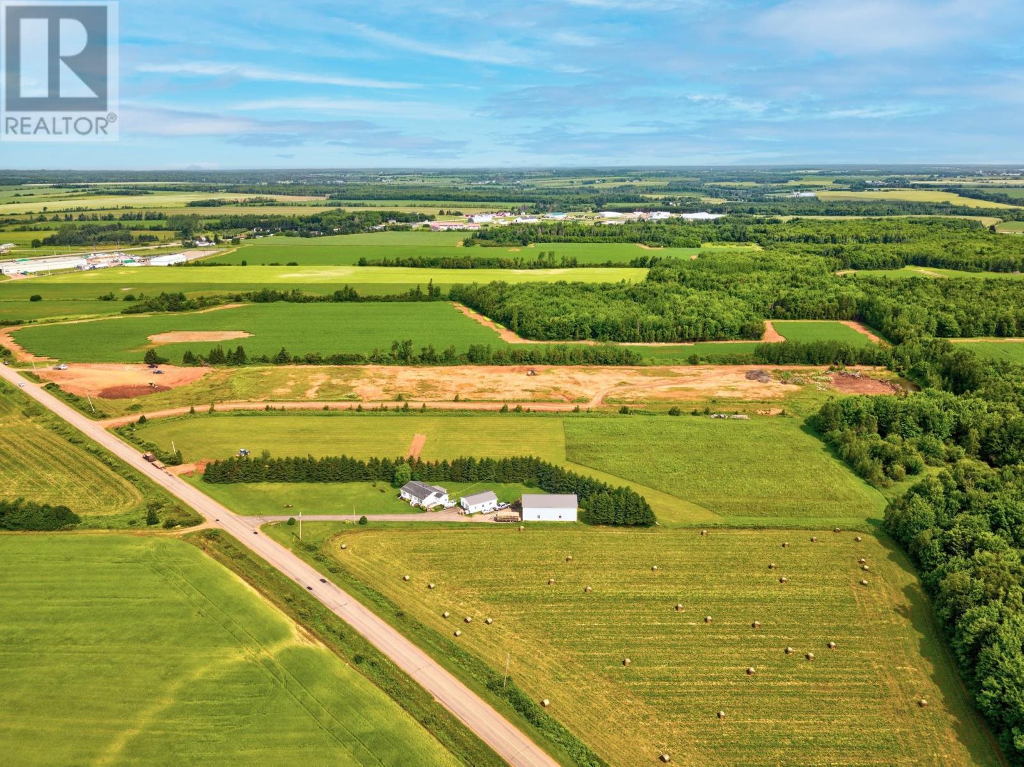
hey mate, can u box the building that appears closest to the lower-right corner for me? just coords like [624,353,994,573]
[522,491,577,521]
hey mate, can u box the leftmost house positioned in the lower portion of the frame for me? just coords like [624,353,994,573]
[399,479,457,511]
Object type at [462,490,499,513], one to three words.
building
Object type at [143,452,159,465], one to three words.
vehicle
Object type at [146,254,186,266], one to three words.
shed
